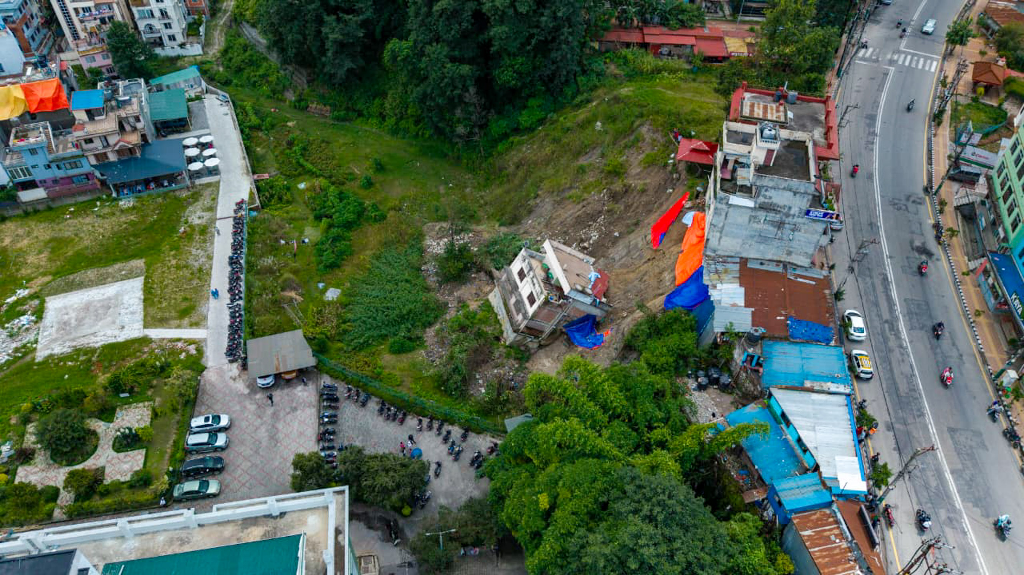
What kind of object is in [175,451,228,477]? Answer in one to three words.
car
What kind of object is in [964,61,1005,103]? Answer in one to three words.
gazebo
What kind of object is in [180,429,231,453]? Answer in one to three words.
car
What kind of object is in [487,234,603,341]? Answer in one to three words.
house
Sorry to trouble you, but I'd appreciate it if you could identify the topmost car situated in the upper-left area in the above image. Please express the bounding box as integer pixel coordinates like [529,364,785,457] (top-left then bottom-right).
[211,89,234,103]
